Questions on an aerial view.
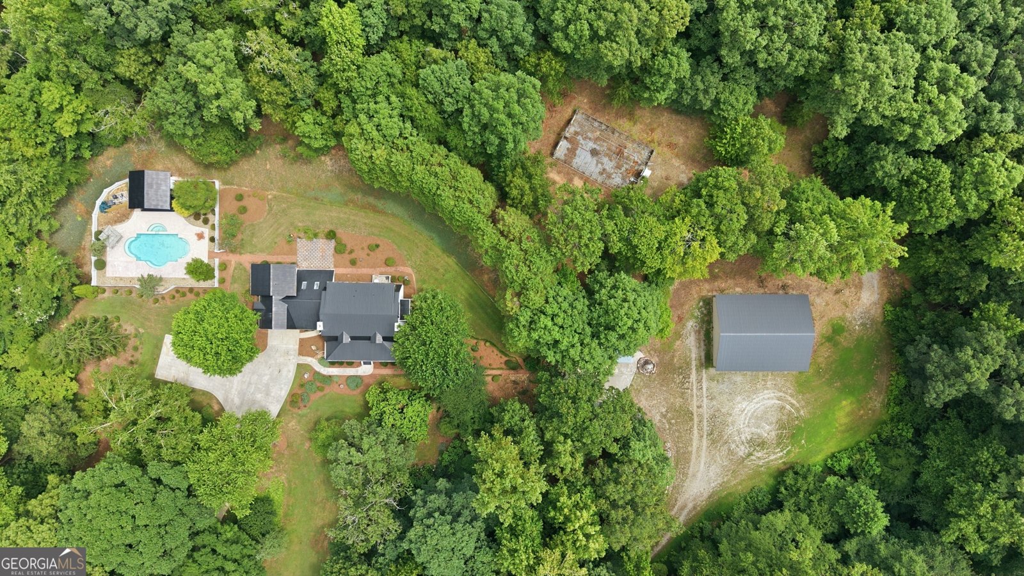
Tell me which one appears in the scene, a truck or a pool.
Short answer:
pool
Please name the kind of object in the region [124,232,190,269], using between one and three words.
swimming pool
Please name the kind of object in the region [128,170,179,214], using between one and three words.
building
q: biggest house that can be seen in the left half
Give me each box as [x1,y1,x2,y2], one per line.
[250,263,412,366]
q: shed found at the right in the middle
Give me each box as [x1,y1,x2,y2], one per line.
[712,294,815,371]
